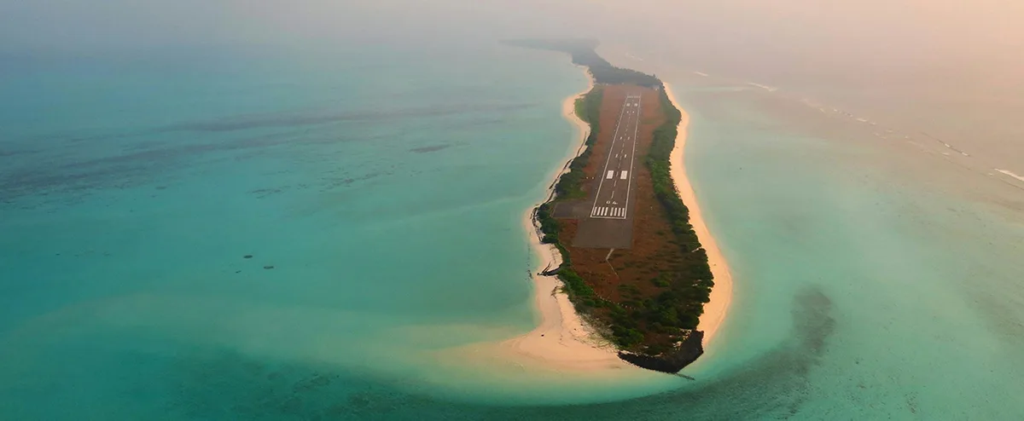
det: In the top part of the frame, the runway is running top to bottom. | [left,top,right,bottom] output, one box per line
[582,93,645,220]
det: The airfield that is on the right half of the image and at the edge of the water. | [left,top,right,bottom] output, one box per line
[550,86,679,257]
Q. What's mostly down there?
water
